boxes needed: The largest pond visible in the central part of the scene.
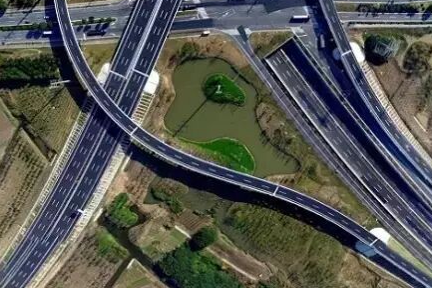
[166,58,299,176]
